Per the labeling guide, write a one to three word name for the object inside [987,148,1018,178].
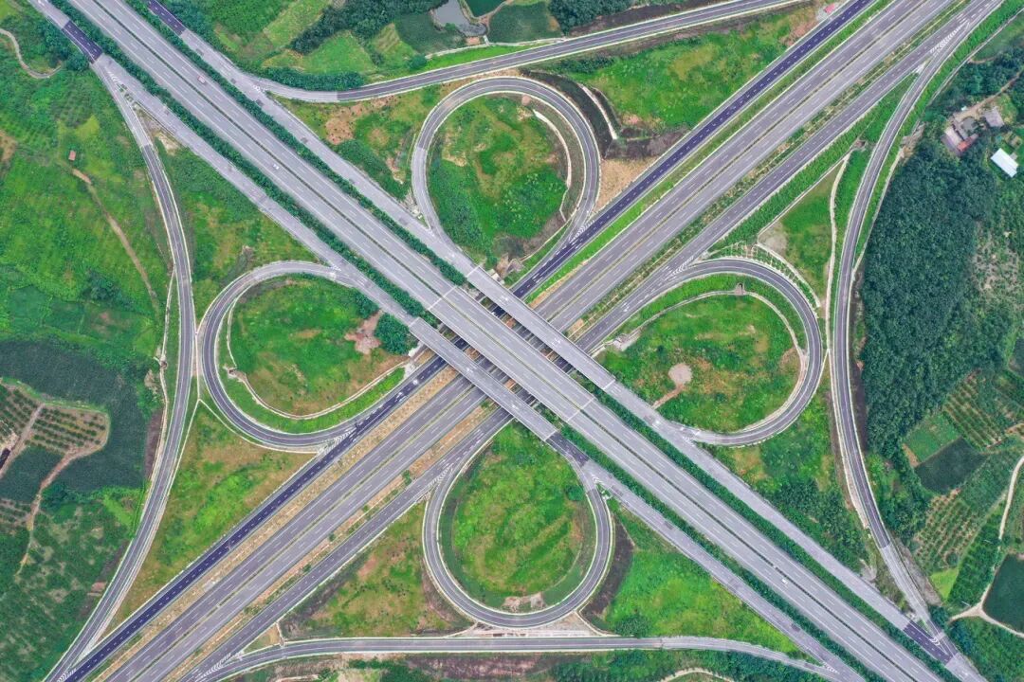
shed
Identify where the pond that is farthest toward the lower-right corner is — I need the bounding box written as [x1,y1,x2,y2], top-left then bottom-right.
[984,553,1024,632]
